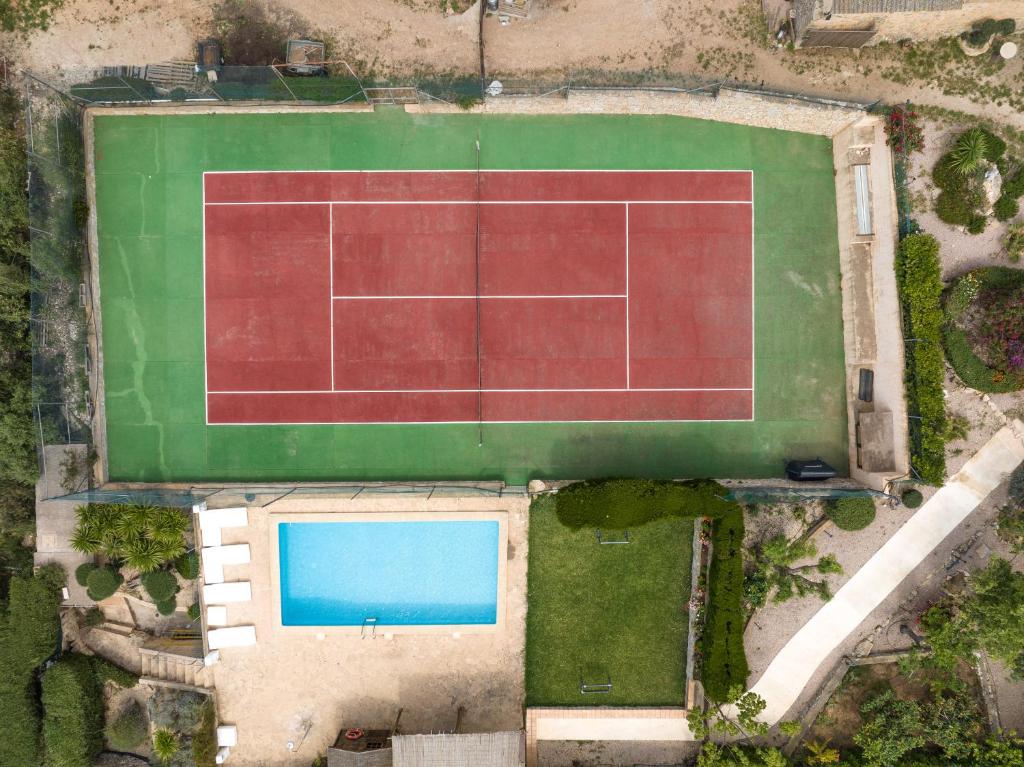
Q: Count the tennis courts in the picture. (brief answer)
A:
1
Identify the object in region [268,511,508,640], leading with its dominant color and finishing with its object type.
blue swimming pool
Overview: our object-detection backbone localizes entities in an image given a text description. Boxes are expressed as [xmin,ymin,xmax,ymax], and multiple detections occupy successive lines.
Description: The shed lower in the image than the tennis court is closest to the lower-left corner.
[327,729,392,767]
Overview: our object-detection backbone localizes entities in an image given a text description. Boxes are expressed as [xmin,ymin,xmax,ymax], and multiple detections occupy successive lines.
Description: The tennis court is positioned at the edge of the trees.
[93,103,850,488]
